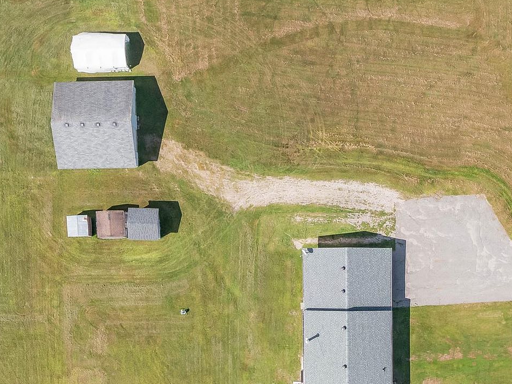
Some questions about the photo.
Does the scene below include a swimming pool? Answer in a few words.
No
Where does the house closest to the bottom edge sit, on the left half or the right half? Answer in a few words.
right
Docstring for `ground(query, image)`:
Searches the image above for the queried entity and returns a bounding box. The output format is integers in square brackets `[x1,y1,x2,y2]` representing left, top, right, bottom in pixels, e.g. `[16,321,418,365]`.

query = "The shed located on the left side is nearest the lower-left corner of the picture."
[67,216,91,237]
